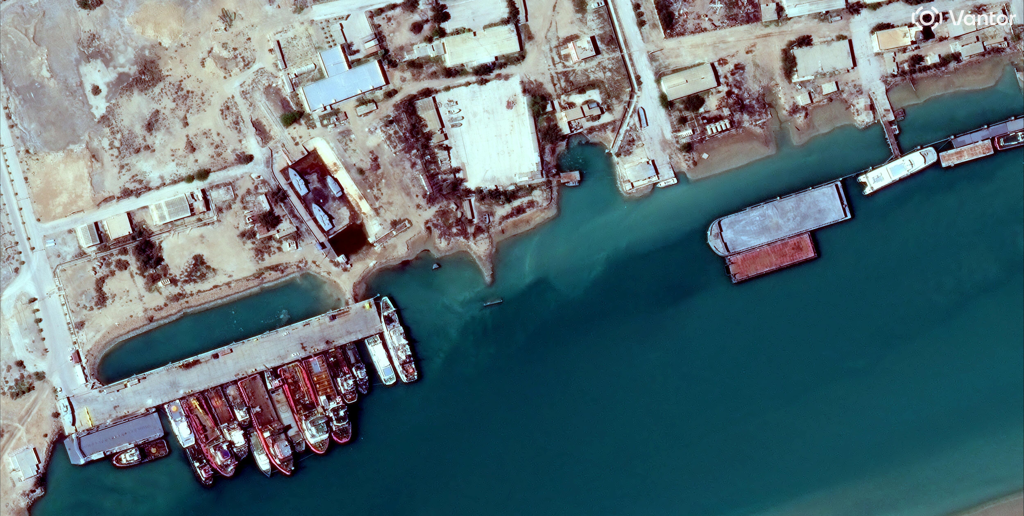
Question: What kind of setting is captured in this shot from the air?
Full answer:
The picture captures a port.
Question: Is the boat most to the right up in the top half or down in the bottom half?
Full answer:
The boat most to the right sits in the top half of the picture.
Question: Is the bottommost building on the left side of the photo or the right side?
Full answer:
It is on the left.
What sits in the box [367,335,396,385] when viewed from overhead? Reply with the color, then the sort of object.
white ship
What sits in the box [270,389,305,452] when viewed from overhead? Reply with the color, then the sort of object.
gray ship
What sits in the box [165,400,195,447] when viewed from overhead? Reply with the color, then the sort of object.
white ship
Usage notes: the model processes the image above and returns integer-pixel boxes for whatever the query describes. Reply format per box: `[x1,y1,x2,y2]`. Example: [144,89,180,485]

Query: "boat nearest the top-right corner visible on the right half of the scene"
[994,129,1024,150]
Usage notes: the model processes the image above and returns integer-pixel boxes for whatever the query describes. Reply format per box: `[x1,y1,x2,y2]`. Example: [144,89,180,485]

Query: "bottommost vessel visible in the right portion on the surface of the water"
[724,232,817,283]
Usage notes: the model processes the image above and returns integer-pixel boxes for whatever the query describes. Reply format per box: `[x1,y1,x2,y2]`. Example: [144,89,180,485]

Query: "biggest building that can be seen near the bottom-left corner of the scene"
[8,448,39,479]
